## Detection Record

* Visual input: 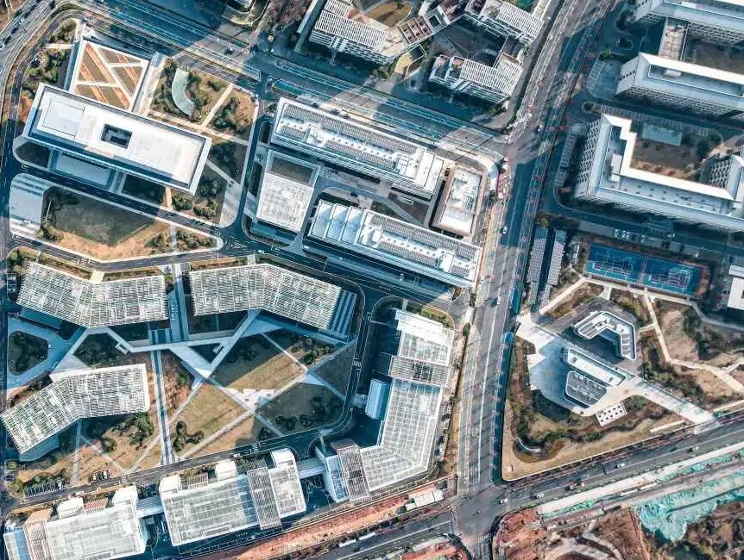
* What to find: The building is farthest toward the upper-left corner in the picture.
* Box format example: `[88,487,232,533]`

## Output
[69,40,149,113]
